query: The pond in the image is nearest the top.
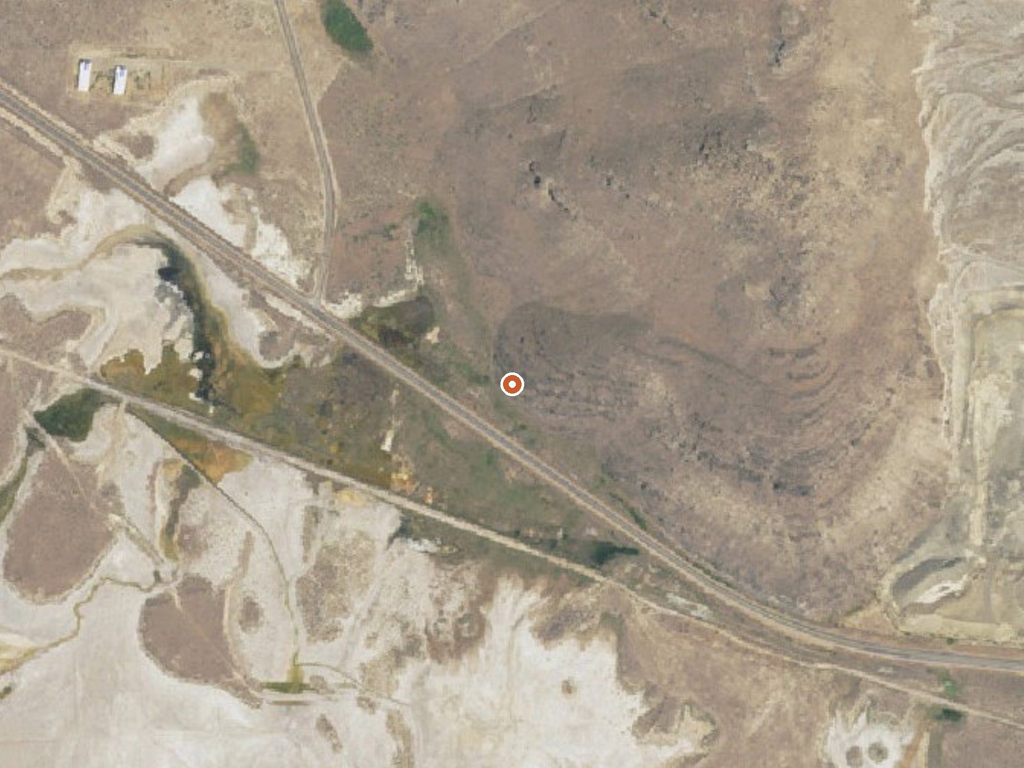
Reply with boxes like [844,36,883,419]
[142,240,216,409]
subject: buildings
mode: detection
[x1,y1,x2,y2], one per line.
[78,59,92,92]
[113,66,126,95]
